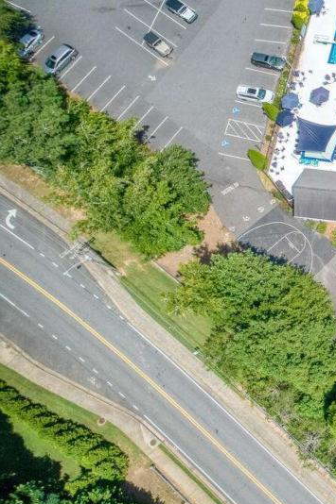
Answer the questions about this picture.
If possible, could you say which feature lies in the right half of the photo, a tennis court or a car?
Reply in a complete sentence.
Looking in the right half of the photo, you will find a car.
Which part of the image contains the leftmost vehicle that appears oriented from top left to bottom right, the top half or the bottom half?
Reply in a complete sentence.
You can find the leftmost vehicle that appears oriented from top left to bottom right in the top half.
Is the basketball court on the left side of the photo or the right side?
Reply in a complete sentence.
The basketball court appears in the right half of the scene.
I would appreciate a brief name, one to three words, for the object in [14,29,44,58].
car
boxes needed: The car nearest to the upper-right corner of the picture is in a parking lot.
[252,53,285,71]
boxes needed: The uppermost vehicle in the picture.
[164,0,194,21]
